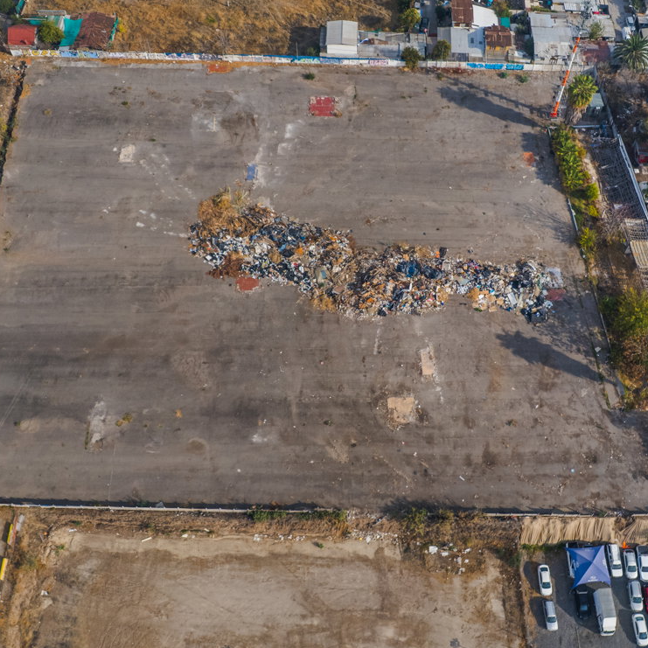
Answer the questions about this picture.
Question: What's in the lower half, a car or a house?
car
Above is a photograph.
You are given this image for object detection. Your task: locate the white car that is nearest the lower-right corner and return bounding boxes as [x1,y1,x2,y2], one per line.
[631,613,648,646]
